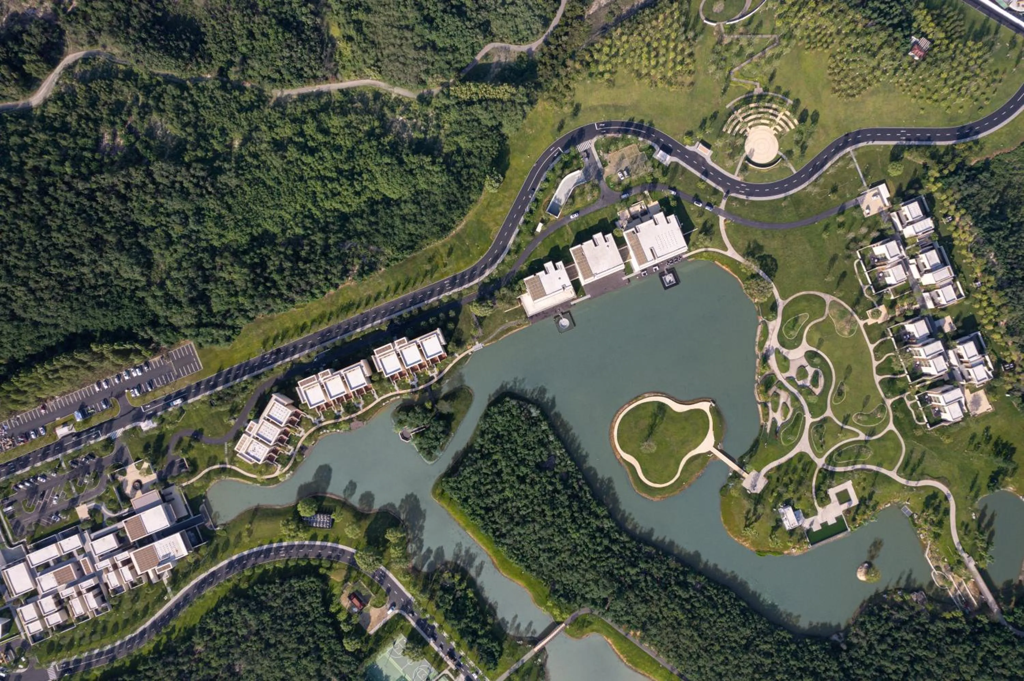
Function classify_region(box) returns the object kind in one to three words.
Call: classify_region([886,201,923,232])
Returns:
house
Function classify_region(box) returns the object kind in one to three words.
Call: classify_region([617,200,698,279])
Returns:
building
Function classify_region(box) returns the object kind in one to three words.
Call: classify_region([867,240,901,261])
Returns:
house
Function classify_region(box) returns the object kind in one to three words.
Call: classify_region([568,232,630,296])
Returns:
building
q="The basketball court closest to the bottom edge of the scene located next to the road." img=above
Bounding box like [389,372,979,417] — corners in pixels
[367,634,439,681]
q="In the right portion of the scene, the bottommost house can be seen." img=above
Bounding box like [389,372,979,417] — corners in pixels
[775,505,805,531]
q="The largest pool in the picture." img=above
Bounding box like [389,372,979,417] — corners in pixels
[808,514,850,549]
